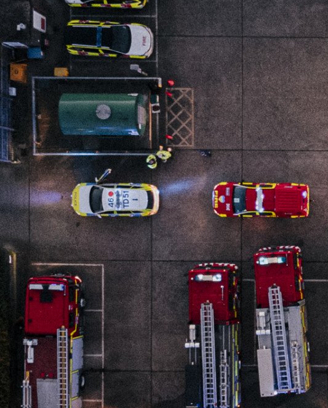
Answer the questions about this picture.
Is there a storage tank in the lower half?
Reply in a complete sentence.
No, I can find no storage tank in the lower half.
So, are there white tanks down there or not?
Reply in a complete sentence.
No, no white tank is visible in the view.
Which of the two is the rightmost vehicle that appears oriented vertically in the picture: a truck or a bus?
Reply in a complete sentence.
The rightmost vehicle that appears oriented vertically appears to be a truck.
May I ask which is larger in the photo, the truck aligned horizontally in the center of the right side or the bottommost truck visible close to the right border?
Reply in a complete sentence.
The bottommost truck visible close to the right border covers a greater area than the truck aligned horizontally in the center of the right side.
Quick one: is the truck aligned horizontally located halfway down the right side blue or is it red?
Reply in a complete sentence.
The truck aligned horizontally located halfway down the right side looks red in the image.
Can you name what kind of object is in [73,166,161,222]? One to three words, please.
car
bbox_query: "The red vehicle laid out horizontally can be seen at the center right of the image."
[215,179,311,223]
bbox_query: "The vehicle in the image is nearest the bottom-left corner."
[22,267,87,408]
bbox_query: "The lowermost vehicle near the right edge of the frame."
[245,242,312,398]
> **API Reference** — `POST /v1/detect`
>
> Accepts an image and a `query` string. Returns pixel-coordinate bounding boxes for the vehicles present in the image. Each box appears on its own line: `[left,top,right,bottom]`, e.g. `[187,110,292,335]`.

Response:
[181,260,243,408]
[67,17,156,59]
[245,242,312,398]
[73,166,161,222]
[215,179,311,223]
[62,0,150,10]
[22,267,87,408]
